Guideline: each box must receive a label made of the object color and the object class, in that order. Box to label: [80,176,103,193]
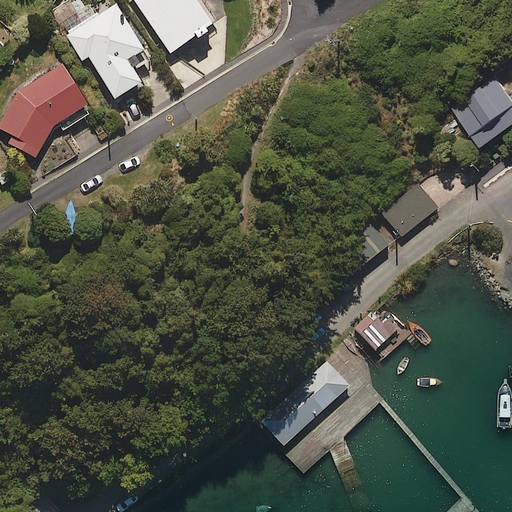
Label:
white car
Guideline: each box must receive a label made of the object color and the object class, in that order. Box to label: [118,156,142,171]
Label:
white car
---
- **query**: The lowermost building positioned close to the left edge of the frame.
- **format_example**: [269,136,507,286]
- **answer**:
[0,64,88,158]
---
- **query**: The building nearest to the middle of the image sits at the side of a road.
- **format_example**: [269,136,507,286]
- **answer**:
[356,224,388,262]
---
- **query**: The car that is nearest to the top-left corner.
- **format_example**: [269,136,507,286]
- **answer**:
[126,97,141,122]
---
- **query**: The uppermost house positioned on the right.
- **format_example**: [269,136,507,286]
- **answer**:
[452,73,512,147]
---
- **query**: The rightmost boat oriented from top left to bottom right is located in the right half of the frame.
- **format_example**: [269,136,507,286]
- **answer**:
[408,320,432,346]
